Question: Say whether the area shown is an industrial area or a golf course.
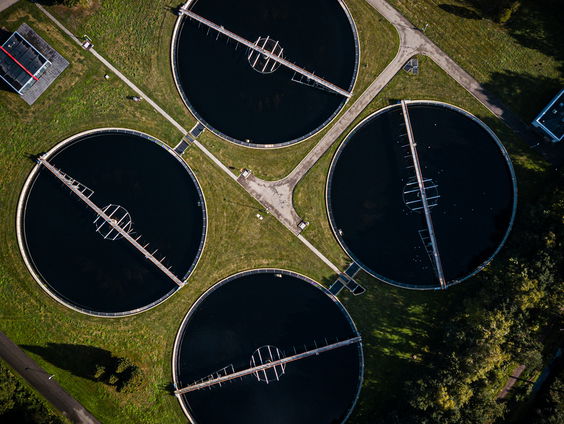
industrial area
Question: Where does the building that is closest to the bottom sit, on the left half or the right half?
right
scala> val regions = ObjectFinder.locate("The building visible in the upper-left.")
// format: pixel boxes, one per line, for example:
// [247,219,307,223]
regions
[0,31,52,95]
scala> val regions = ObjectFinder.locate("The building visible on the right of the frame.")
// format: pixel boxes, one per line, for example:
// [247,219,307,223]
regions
[533,87,564,142]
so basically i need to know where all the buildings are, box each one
[533,87,564,142]
[0,31,52,95]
